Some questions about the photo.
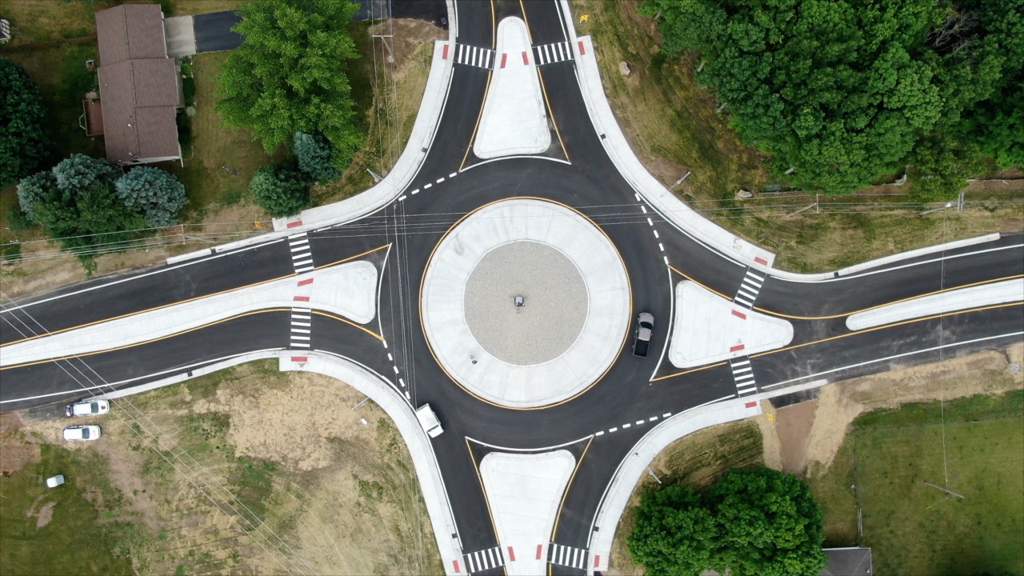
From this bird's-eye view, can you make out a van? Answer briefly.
Yes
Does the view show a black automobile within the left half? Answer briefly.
No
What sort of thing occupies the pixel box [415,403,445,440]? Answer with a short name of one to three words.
van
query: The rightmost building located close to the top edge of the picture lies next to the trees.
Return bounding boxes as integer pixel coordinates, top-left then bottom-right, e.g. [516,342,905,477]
[78,3,195,166]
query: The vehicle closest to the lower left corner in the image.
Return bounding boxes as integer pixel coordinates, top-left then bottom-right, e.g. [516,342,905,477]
[63,424,104,442]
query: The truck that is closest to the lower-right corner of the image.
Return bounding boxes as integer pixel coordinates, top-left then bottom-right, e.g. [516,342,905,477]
[632,311,654,358]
